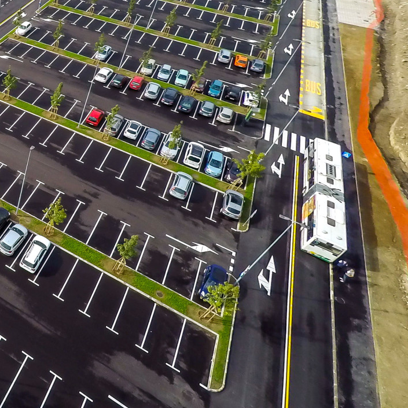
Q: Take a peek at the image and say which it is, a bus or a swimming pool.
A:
bus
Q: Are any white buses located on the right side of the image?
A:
Yes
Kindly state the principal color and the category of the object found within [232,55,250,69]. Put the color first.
orange car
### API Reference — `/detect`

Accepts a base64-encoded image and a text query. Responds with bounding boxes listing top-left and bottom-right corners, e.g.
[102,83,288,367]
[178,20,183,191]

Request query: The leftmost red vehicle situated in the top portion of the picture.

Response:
[85,107,105,126]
